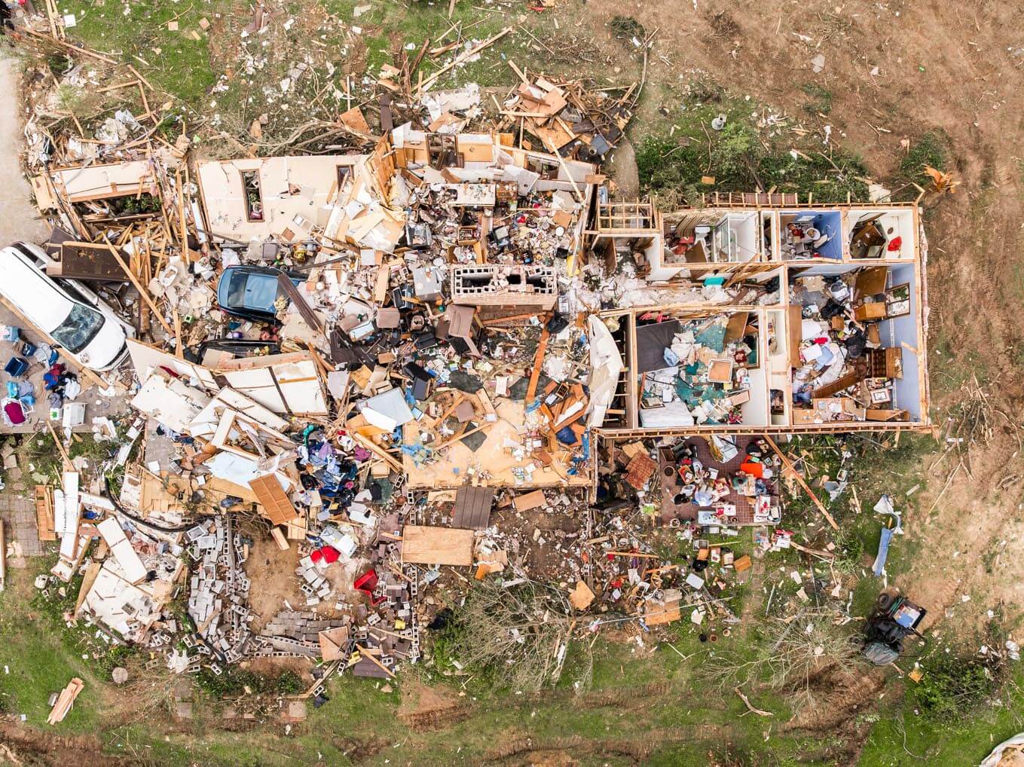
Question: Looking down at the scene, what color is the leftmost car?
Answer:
white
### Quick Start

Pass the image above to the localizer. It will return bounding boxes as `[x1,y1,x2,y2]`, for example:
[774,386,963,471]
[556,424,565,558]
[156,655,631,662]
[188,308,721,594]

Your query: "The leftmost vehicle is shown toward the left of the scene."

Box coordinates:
[0,235,141,370]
